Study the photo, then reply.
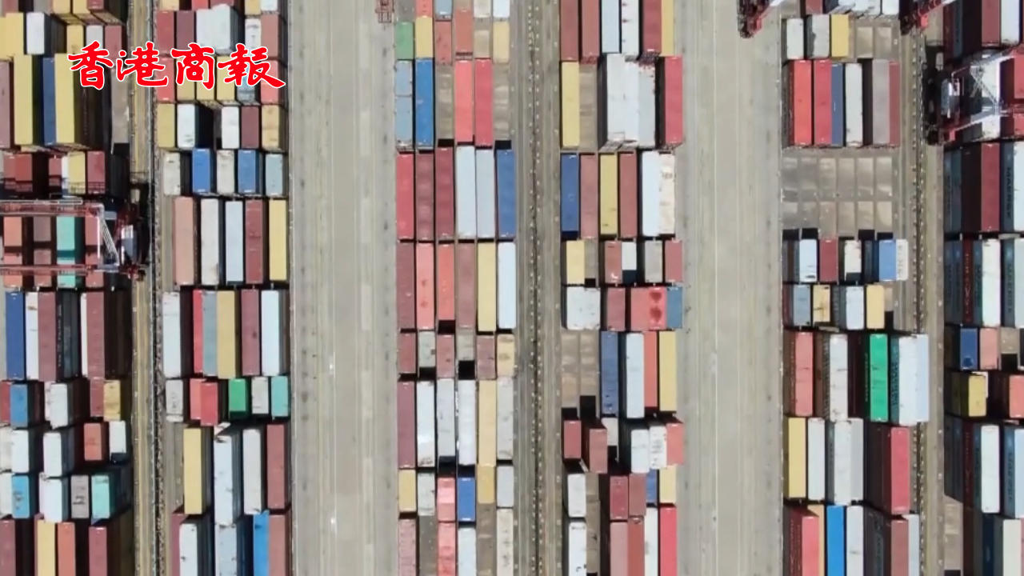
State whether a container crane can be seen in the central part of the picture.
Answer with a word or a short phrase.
No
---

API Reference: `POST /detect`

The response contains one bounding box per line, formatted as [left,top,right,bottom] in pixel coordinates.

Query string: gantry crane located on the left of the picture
[0,184,149,284]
